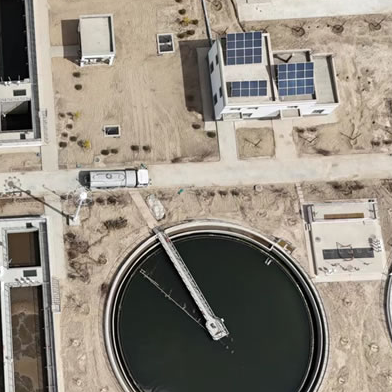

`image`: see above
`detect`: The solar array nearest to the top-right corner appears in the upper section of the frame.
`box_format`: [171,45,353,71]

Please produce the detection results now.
[277,65,316,96]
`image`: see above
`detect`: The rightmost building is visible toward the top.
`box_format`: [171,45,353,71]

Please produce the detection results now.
[208,33,344,126]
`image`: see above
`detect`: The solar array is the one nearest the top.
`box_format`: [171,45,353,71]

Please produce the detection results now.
[225,33,264,65]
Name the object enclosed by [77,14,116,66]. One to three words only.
building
